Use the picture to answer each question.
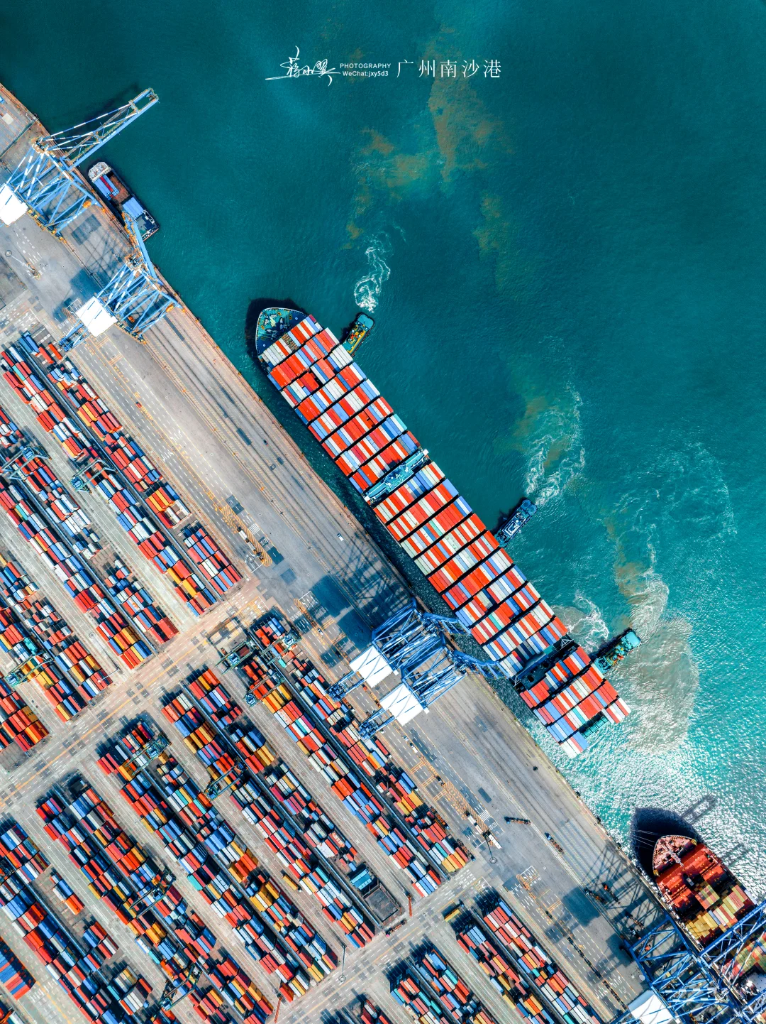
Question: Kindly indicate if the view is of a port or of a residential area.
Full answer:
This looks like a port.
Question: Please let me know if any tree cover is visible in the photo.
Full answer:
No, there's no tree cover in this view.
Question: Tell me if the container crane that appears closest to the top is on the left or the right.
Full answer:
The container crane that appears closest to the top sits on the left side.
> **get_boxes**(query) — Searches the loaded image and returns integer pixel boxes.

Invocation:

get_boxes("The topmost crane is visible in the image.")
[0,90,159,250]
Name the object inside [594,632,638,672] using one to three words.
boat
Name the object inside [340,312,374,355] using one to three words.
boat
